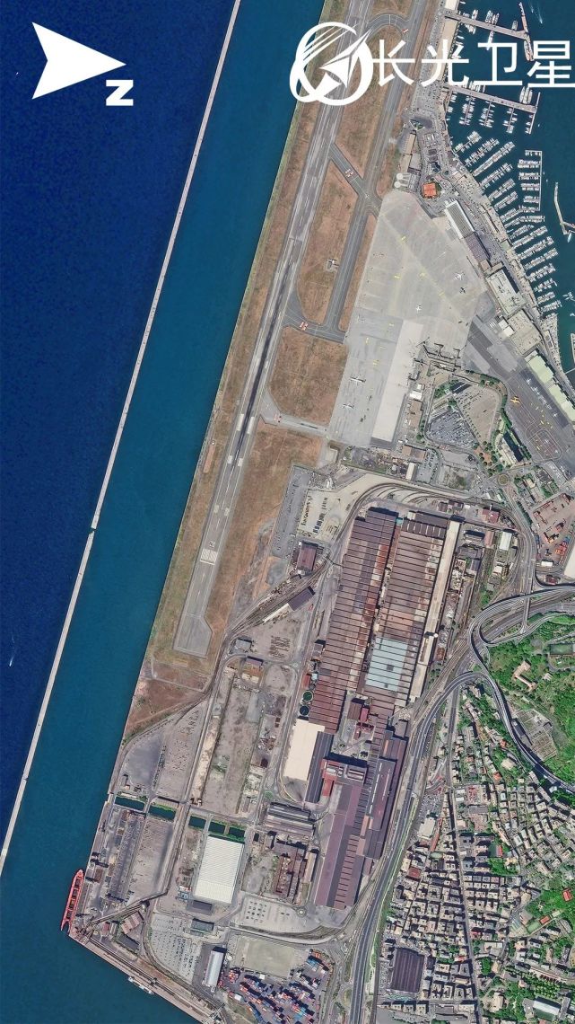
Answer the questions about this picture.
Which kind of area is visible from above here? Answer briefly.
port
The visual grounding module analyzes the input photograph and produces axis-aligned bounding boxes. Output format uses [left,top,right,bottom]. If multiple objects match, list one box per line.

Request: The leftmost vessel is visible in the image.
[61,869,83,932]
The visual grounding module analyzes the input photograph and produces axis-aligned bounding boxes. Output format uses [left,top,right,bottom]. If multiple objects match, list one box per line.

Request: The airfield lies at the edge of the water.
[143,0,575,671]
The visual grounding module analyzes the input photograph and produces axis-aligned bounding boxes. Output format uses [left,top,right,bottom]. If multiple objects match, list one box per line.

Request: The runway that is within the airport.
[172,0,372,652]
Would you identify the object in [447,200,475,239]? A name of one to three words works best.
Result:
hangar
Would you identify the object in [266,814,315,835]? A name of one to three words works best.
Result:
shed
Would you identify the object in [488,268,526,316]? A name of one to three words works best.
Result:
building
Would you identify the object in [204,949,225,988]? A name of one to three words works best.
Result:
shed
